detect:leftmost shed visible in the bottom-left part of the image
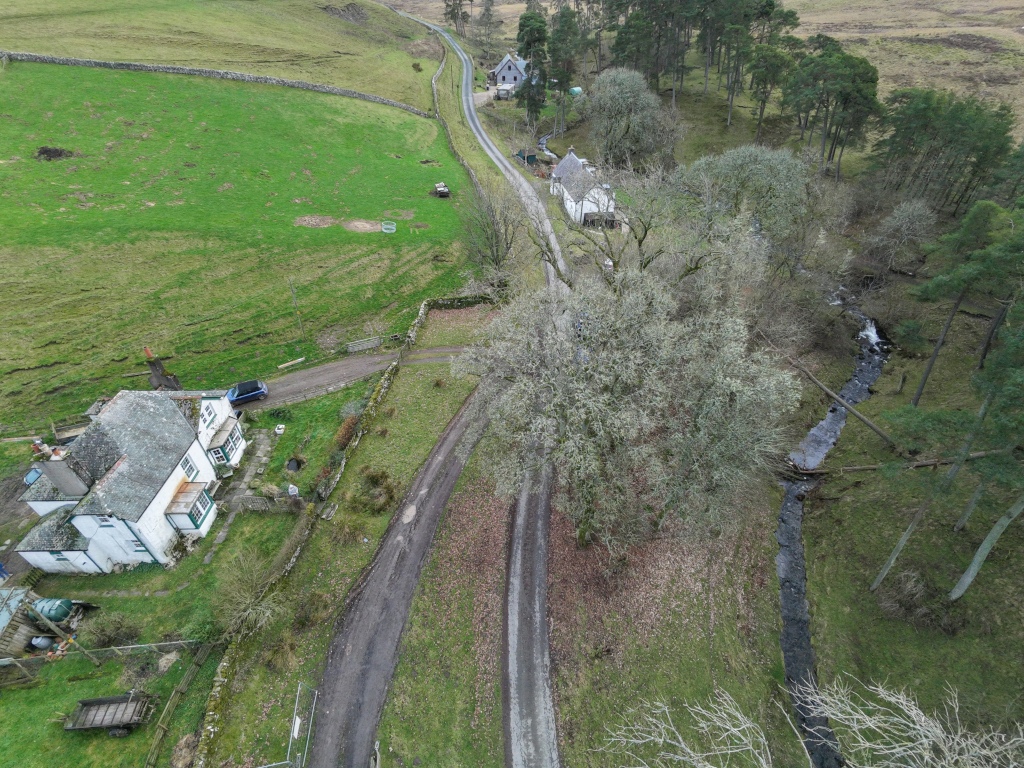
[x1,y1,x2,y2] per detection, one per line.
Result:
[0,591,41,671]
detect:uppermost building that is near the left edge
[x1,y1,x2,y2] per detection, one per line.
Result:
[15,343,249,581]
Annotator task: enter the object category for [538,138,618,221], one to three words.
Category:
house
